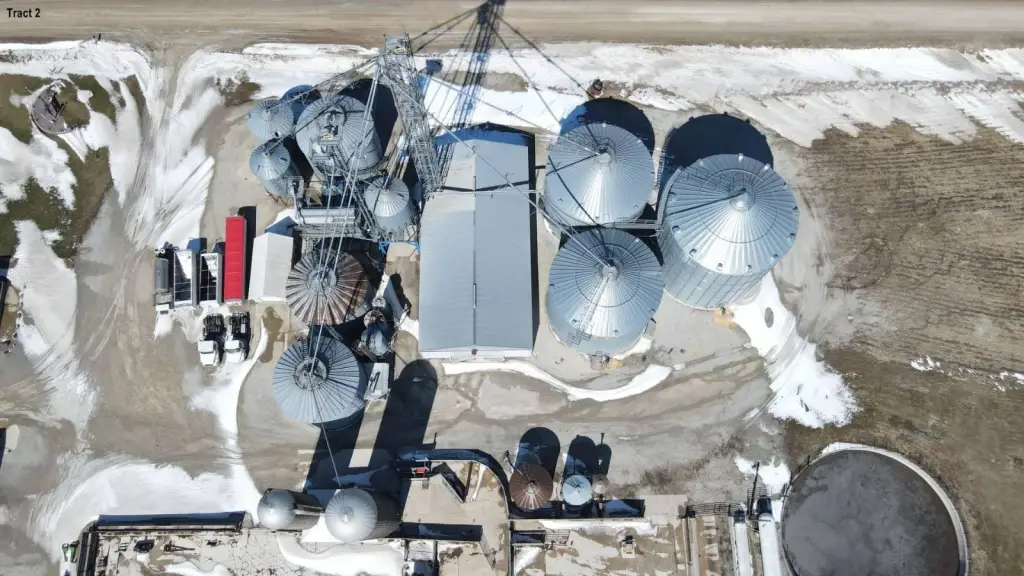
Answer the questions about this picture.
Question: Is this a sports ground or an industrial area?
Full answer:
This image shows an industrial area.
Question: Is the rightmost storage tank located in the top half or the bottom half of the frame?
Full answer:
It is in the bottom half that the rightmost storage tank appears.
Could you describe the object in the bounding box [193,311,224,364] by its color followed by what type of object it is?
white truck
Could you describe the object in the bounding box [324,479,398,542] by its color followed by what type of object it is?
gray silo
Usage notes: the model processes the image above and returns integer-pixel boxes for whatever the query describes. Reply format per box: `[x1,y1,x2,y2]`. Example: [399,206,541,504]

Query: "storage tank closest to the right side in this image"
[777,450,975,576]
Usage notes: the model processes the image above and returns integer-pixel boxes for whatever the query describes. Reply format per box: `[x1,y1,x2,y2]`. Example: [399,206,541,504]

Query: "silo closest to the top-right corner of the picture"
[645,154,799,318]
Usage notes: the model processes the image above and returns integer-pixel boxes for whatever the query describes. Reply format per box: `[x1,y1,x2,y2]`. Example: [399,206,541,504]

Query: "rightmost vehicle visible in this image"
[618,533,639,570]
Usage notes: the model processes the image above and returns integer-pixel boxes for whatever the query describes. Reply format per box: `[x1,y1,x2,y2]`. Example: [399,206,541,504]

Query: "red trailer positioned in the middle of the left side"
[223,217,252,306]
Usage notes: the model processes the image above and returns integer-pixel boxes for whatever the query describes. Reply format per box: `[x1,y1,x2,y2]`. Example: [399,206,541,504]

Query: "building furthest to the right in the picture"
[420,141,534,357]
